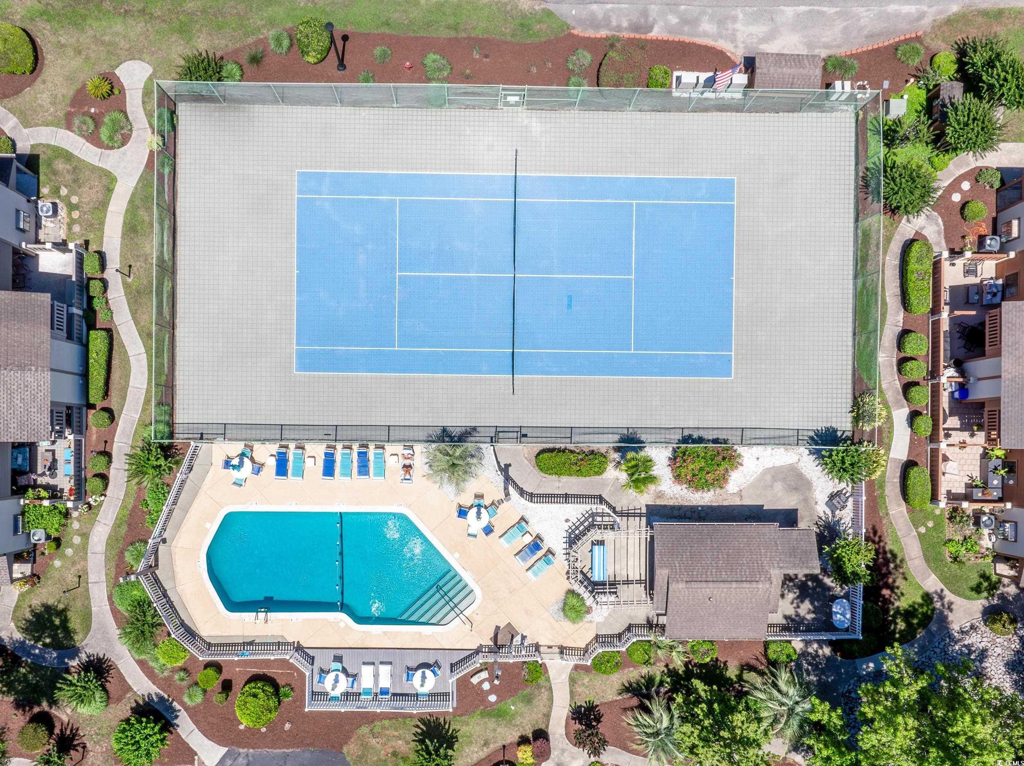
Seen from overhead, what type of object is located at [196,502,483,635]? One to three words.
swimming pool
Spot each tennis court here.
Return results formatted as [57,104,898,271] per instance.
[175,102,855,446]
